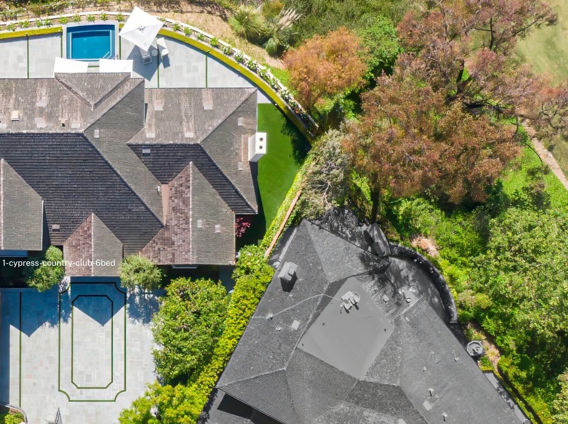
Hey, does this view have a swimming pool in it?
Yes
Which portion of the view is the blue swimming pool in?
top left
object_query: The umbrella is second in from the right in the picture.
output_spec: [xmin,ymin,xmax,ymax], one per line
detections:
[99,59,133,73]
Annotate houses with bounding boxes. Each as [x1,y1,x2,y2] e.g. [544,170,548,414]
[217,218,528,424]
[0,72,268,406]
